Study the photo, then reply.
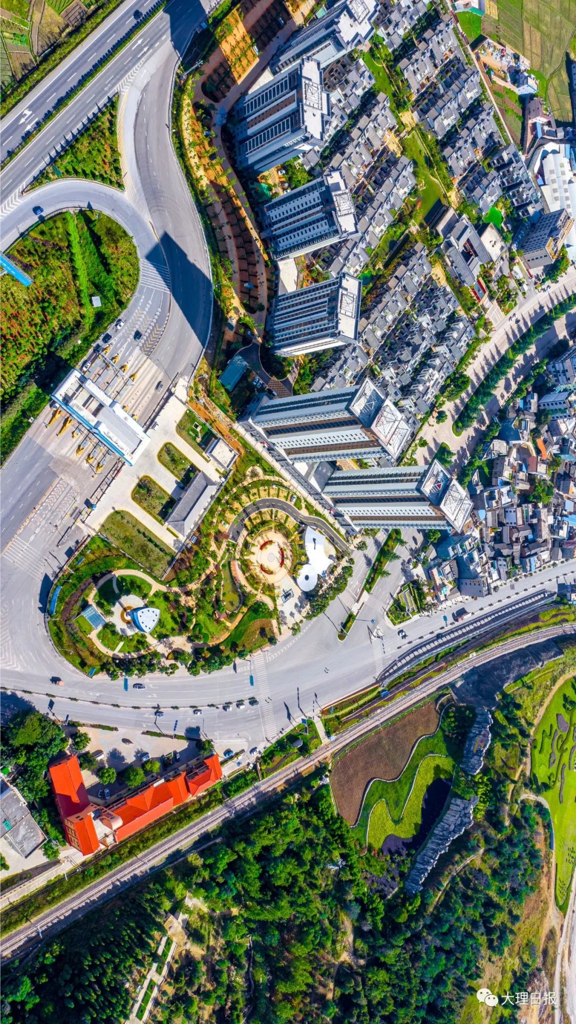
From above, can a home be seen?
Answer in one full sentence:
Yes, a home can be made out from above.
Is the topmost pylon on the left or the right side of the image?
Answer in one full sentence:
The topmost pylon sits on the left side.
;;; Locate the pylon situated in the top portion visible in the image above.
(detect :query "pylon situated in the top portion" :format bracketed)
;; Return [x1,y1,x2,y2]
[181,62,210,82]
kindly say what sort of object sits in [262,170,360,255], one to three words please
building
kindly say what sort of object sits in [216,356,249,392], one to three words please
shed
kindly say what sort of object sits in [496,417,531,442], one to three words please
house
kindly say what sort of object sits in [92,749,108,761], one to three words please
vehicle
